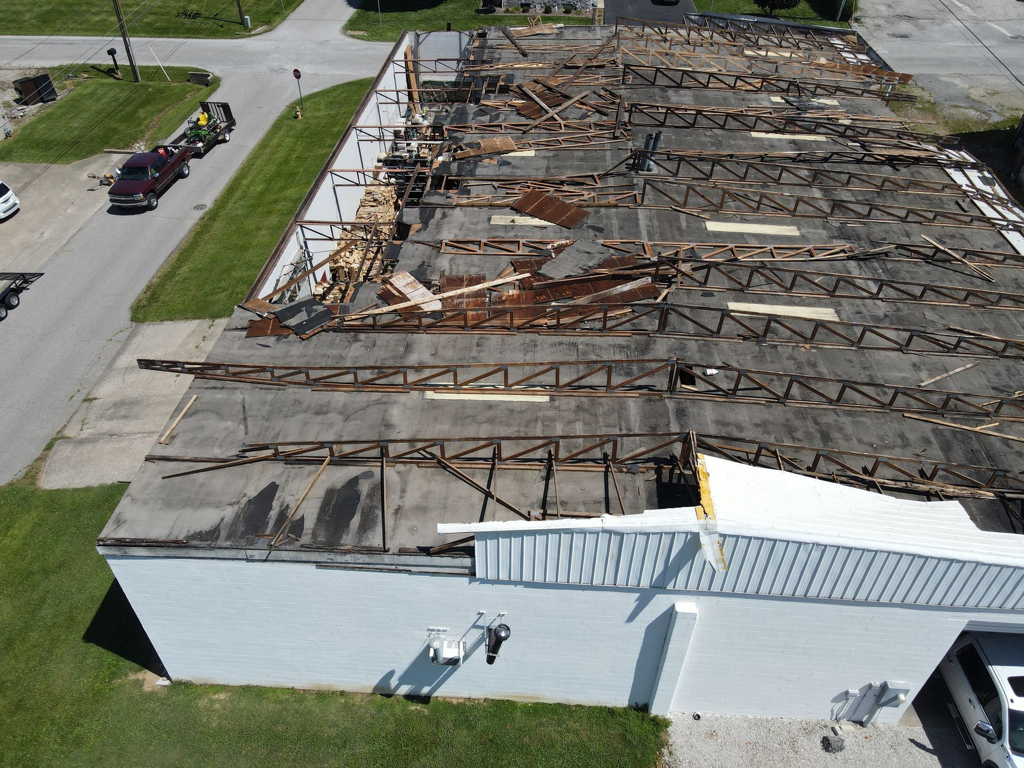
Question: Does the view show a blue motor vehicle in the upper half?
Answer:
No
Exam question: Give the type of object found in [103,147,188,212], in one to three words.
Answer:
truck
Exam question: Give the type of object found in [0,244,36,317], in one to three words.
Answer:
trailer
